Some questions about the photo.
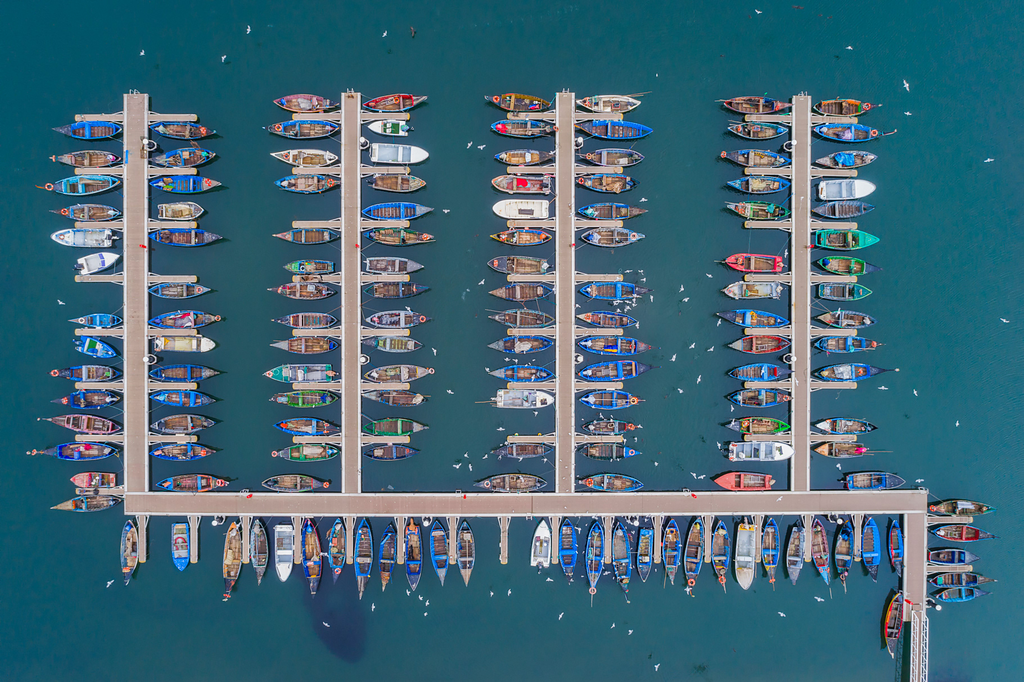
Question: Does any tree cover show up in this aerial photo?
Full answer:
No, tree cover can't be seen anywhere here.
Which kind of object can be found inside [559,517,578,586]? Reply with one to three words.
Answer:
boat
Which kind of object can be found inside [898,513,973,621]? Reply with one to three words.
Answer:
pier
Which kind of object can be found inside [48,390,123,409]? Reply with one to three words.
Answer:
boat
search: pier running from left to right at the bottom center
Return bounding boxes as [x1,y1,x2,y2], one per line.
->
[125,487,932,563]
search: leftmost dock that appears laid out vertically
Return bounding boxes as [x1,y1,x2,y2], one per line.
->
[75,88,199,499]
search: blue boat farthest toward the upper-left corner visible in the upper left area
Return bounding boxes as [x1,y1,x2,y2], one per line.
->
[50,120,124,140]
